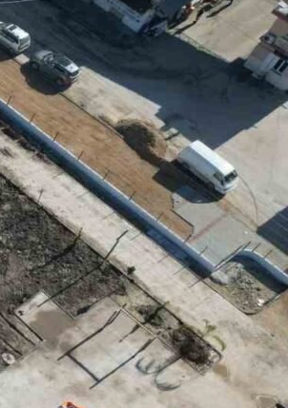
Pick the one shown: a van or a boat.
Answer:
van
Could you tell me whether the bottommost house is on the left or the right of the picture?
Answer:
right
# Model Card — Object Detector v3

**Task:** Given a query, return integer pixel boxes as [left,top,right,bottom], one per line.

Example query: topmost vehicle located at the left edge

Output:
[0,19,35,56]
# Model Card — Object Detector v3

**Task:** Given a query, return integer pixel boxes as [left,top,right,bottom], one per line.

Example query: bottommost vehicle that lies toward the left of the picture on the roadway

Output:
[32,49,89,87]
